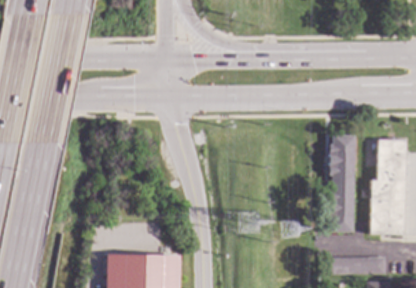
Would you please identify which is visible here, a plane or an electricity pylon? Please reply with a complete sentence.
It is an electricity pylon that can be seen here.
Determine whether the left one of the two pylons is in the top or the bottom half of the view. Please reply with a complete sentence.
The bottom half of the photo is where the left one of the two pylons is.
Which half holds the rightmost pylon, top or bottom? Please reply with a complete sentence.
The rightmost pylon is in the bottom half of the image.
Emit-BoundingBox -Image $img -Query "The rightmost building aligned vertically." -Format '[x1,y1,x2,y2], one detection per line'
[367,138,408,235]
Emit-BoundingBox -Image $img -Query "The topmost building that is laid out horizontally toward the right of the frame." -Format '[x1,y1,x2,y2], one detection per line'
[330,256,387,275]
